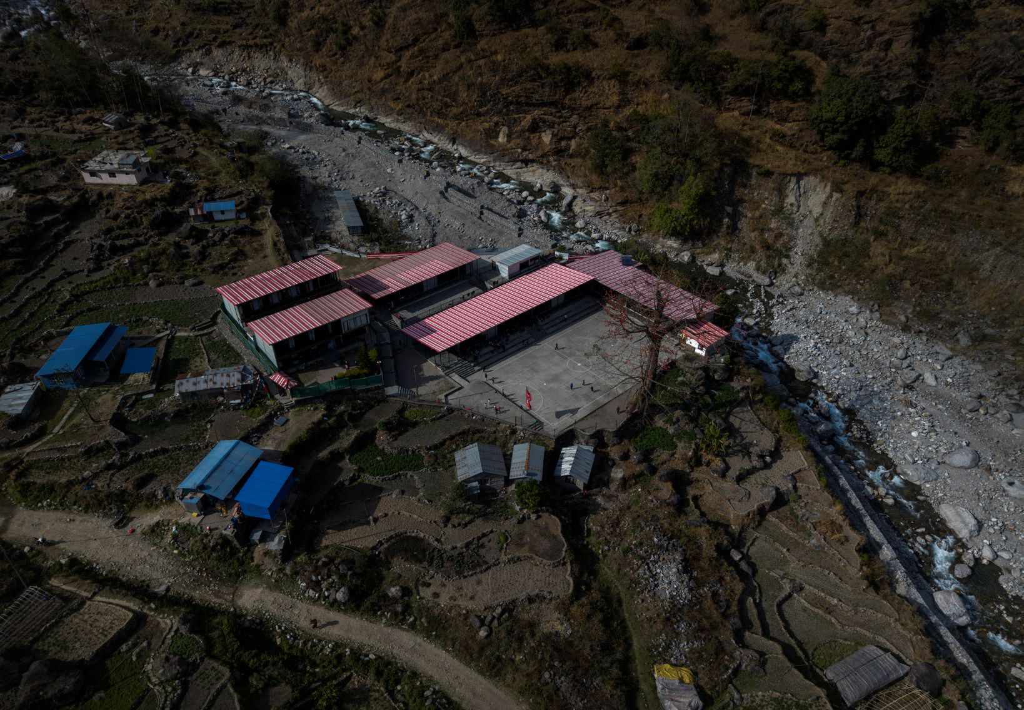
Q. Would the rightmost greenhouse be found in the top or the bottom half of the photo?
bottom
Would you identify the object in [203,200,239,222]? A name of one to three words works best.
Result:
house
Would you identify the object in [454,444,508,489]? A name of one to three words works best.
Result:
shed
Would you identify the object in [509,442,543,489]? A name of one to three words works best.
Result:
shed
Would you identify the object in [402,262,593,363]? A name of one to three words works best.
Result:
building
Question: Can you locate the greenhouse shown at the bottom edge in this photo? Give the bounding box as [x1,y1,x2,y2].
[824,646,910,710]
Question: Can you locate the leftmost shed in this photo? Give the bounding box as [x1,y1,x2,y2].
[0,383,47,428]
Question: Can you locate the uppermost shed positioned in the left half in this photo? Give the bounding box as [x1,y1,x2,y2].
[102,114,132,132]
